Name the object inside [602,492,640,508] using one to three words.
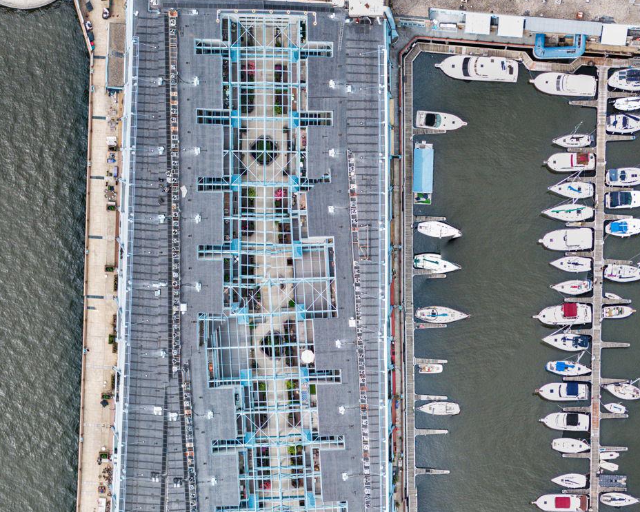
boat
